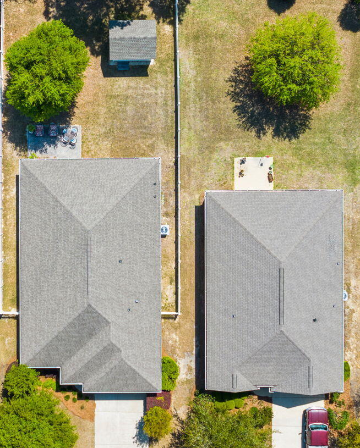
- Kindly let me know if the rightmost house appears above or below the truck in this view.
above it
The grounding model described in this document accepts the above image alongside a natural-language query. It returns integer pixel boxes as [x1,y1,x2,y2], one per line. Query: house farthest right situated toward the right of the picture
[204,190,345,396]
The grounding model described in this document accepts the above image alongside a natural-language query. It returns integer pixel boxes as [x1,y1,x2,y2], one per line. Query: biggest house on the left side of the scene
[19,159,162,394]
